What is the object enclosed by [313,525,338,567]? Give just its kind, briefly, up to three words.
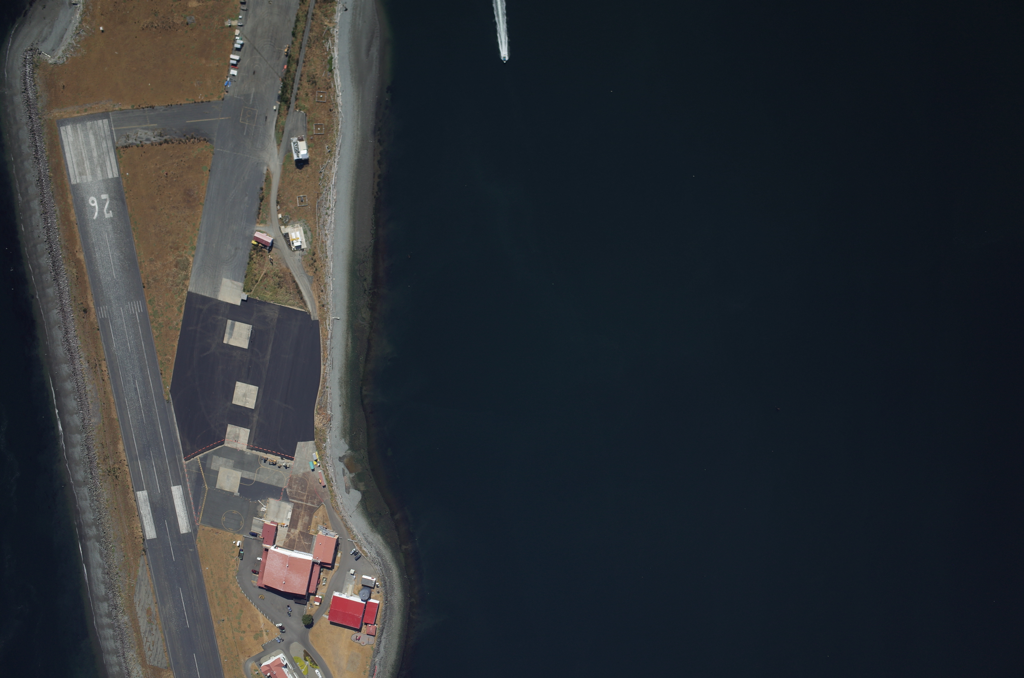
building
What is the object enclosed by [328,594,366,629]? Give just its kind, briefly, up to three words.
building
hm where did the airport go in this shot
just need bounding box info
[57,0,330,678]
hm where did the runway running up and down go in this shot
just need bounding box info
[57,112,224,678]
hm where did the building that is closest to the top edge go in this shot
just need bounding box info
[290,135,309,161]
